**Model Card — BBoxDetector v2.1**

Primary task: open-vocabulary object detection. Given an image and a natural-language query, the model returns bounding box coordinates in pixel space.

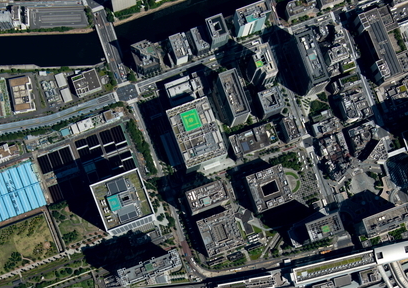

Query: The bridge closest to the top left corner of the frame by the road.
[92,2,134,96]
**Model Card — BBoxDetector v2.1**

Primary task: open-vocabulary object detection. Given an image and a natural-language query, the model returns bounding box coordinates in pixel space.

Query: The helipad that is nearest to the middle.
[180,108,203,132]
